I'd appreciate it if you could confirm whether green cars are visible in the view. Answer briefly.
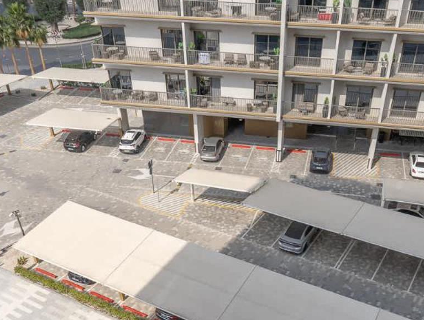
No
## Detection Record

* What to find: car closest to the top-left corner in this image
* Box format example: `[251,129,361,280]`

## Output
[61,128,96,150]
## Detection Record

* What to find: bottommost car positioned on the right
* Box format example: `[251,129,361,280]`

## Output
[279,222,326,253]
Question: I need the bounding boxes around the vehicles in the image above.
[117,129,145,154]
[408,148,424,177]
[159,310,181,320]
[196,134,227,161]
[279,222,326,253]
[61,128,96,150]
[311,143,336,172]
[68,272,97,286]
